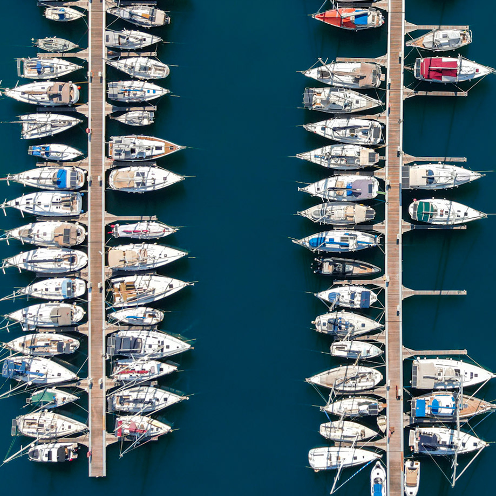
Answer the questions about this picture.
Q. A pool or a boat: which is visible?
boat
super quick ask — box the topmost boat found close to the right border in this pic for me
[404,28,481,53]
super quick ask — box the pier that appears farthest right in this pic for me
[332,0,469,496]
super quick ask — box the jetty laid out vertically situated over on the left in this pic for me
[35,0,159,477]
